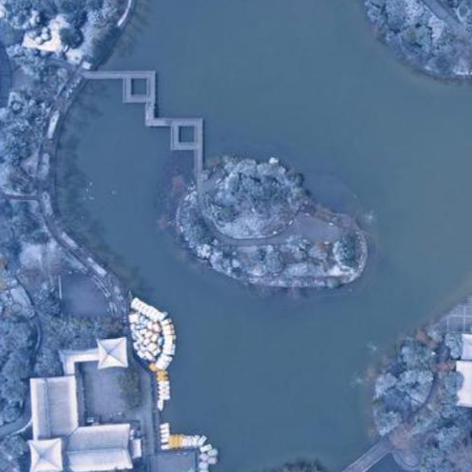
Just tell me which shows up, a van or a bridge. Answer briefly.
bridge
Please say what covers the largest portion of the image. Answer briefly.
water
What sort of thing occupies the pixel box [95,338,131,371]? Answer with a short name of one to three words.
building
